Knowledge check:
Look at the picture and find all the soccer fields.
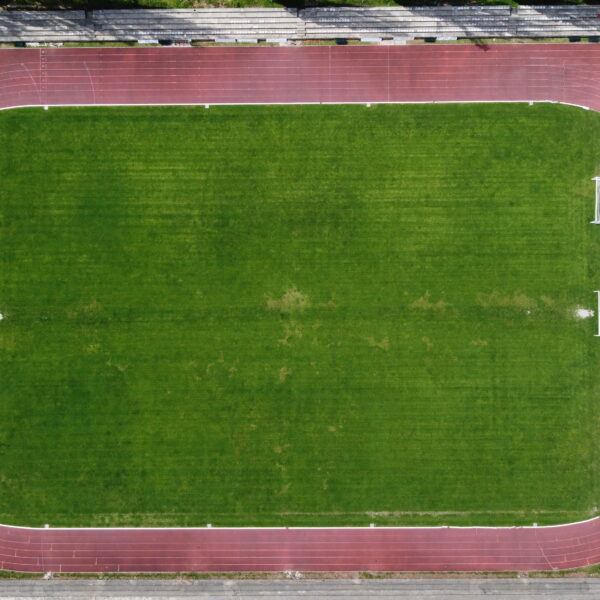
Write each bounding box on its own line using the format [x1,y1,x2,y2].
[0,102,600,529]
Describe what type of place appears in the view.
sports ground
